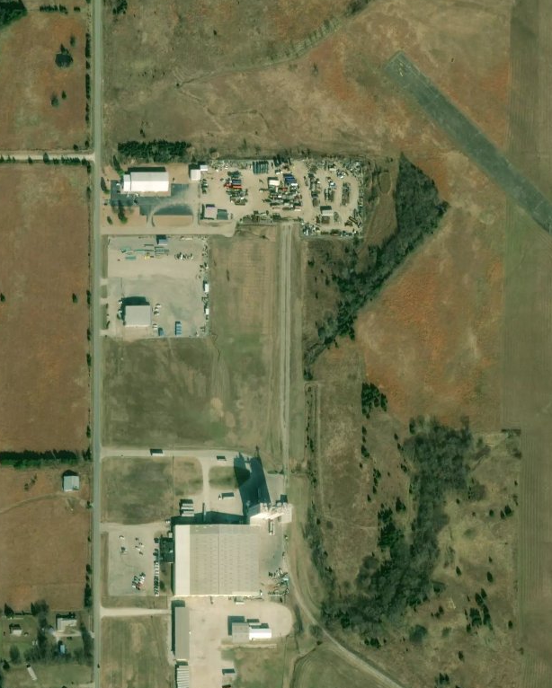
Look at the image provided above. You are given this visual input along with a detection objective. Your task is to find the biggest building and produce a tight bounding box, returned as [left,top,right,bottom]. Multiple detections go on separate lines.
[173,525,260,596]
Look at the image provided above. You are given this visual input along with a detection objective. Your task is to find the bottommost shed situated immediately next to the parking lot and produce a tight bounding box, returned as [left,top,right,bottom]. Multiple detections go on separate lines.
[174,607,189,660]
